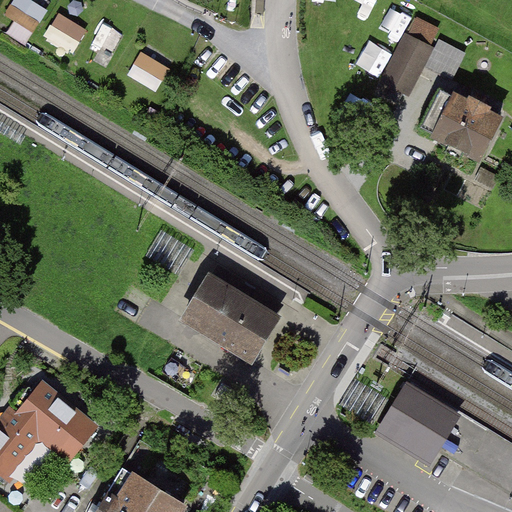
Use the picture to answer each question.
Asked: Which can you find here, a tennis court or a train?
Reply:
train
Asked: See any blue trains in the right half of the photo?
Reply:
No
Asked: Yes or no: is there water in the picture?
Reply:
No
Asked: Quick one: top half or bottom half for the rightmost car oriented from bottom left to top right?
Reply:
bottom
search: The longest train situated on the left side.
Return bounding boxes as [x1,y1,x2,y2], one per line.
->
[35,111,272,262]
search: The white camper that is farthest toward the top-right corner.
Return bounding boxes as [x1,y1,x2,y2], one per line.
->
[388,12,412,46]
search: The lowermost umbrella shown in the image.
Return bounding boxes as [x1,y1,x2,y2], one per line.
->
[8,490,23,505]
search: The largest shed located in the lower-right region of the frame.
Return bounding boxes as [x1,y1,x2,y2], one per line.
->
[376,381,460,466]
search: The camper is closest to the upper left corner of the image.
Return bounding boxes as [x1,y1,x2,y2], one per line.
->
[92,22,112,52]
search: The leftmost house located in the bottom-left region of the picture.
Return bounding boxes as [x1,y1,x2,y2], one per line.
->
[0,380,98,496]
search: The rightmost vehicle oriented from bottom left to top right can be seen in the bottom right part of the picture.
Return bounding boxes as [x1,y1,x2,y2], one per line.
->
[430,455,450,478]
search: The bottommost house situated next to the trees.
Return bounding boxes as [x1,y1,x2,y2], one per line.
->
[102,468,188,512]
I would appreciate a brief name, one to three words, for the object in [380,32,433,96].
barn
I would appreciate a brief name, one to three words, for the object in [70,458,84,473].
umbrella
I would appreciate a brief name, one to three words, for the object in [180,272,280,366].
house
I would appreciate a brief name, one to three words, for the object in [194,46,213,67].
car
